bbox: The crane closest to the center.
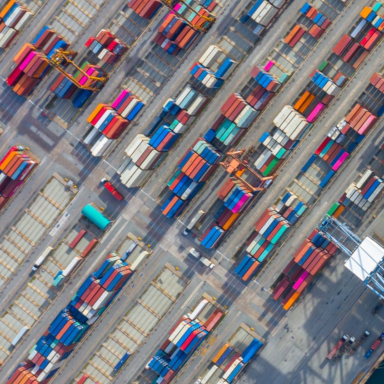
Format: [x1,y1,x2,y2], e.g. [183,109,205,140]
[220,145,278,192]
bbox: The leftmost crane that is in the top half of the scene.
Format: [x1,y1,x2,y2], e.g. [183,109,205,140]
[47,47,111,94]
